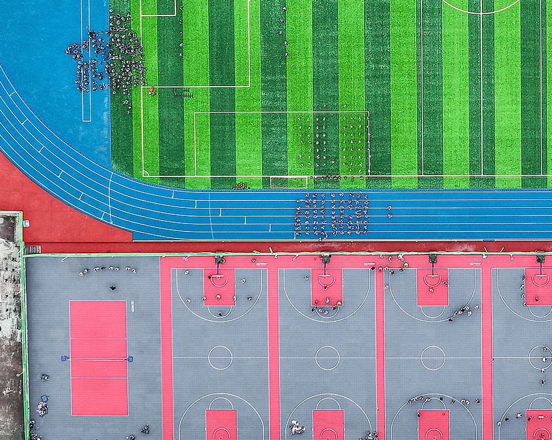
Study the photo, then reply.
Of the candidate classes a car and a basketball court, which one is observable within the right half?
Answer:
basketball court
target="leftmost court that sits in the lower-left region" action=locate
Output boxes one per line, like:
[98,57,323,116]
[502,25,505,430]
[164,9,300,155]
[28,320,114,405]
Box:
[70,301,128,416]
